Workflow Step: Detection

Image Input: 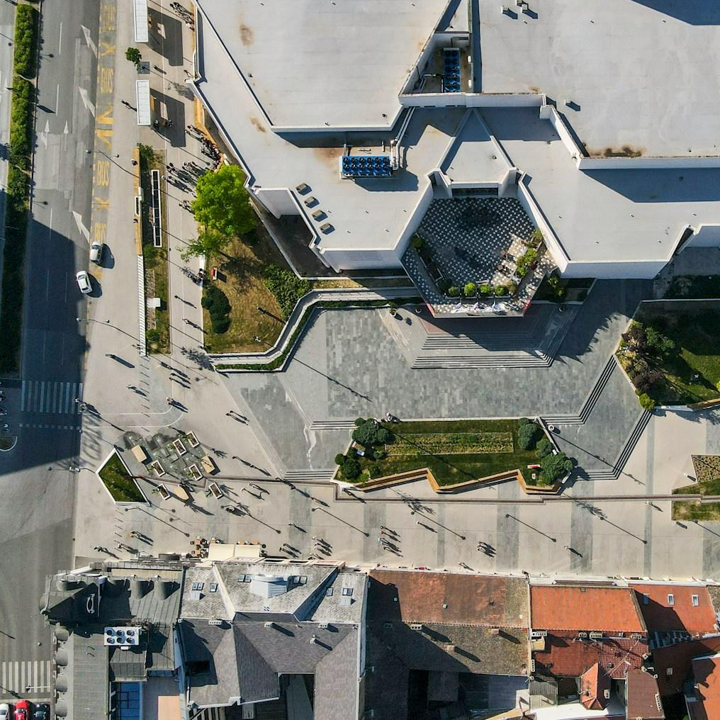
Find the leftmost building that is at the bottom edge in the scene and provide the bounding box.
[45,555,213,720]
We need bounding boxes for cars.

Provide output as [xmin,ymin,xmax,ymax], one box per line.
[34,704,50,720]
[15,699,30,720]
[76,269,93,297]
[88,237,105,266]
[0,703,12,720]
